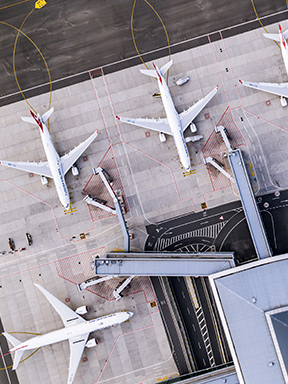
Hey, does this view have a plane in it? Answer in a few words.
Yes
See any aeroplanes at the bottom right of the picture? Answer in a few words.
No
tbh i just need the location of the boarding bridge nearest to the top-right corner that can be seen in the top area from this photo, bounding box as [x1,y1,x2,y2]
[215,125,236,154]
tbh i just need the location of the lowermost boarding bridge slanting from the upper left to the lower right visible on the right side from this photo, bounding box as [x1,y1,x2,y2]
[205,156,237,184]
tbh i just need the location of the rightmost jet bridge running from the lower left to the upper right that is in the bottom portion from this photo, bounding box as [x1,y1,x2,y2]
[114,275,140,300]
